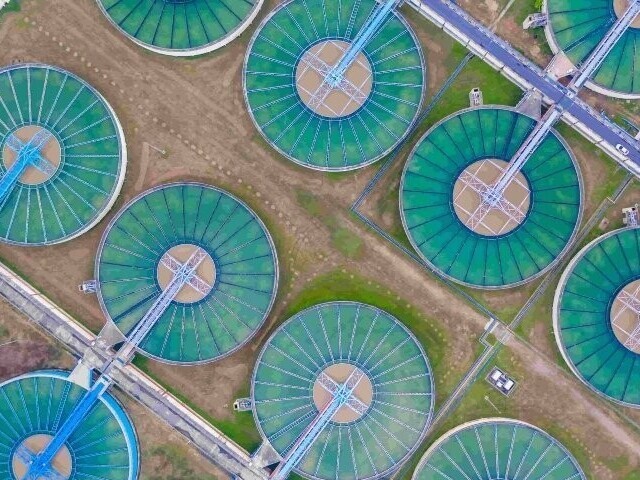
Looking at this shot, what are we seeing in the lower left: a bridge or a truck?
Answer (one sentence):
Looking in the lower left, you will find a bridge.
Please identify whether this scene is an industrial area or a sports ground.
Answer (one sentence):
What you see here is an industrial area.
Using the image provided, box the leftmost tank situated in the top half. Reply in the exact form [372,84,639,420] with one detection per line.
[0,62,128,248]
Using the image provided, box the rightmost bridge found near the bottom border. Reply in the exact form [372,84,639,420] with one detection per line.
[271,392,346,480]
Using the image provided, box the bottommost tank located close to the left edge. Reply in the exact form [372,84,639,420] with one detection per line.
[0,355,139,480]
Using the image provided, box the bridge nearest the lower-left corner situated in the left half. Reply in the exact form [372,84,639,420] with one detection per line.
[36,371,114,468]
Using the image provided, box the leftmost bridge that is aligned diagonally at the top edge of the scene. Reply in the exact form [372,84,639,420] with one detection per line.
[331,0,402,79]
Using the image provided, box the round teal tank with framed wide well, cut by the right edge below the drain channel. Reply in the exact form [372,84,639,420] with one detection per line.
[552,225,640,409]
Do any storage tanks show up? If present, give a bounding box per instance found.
[242,0,428,171]
[542,0,640,99]
[398,89,586,290]
[410,418,586,480]
[0,62,128,248]
[93,180,279,366]
[0,355,139,480]
[94,0,264,56]
[552,225,640,409]
[250,300,436,480]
